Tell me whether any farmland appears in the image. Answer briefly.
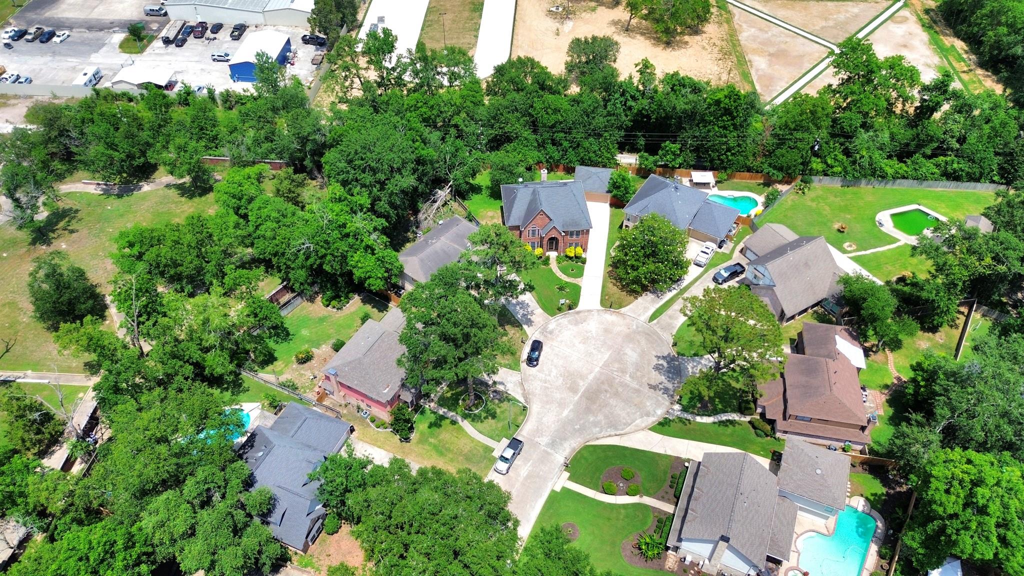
No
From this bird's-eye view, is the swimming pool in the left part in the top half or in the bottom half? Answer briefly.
bottom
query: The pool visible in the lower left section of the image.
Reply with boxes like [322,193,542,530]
[190,406,251,448]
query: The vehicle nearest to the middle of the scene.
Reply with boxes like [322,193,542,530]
[526,334,543,365]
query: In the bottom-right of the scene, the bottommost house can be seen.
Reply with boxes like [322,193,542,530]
[665,439,851,576]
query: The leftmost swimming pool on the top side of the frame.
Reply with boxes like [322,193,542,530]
[705,193,759,215]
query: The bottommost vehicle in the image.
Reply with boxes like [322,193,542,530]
[493,432,528,476]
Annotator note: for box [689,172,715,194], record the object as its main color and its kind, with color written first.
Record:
white gazebo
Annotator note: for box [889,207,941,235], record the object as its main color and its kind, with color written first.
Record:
green swimming pool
